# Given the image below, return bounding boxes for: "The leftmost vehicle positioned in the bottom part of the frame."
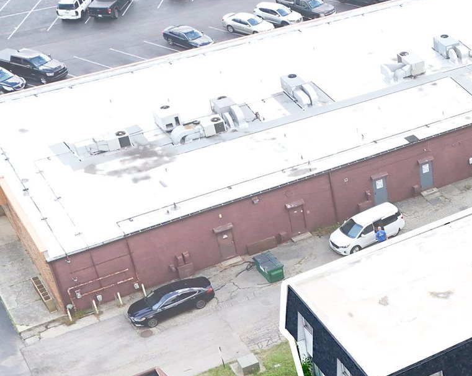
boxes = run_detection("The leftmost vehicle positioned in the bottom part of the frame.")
[124,275,217,328]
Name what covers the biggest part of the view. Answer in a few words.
buildings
